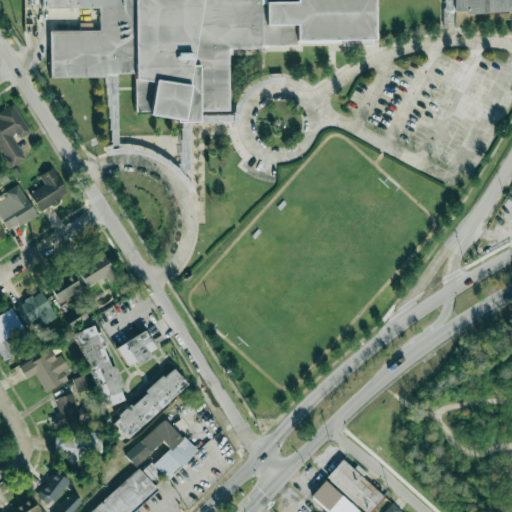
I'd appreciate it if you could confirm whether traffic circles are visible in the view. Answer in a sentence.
Yes, a traffic circle is visible in the scene.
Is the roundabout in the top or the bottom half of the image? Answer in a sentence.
Seen from above, the roundabout lies in the top half of the view.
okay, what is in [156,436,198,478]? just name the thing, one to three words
building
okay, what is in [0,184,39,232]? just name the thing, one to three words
house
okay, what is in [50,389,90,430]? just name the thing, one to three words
house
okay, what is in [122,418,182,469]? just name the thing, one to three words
building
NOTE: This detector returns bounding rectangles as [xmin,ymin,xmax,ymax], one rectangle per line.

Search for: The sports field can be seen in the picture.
[189,134,436,393]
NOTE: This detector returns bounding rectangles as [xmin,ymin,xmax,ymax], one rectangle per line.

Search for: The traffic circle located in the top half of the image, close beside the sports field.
[237,82,322,168]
